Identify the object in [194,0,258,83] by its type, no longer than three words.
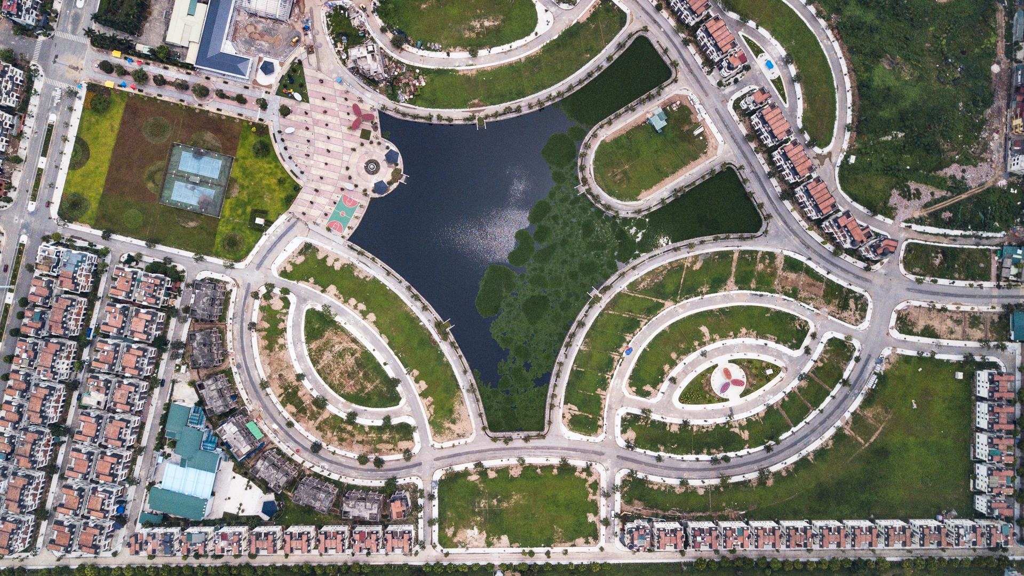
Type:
building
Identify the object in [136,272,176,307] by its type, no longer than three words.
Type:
house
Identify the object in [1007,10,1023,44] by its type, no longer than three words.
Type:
shed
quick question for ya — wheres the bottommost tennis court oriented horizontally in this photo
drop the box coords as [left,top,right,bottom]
[170,182,215,208]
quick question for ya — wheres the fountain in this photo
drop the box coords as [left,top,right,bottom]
[363,158,380,174]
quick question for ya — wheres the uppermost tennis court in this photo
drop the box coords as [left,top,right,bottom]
[178,151,222,179]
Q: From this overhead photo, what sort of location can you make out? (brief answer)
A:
residential area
